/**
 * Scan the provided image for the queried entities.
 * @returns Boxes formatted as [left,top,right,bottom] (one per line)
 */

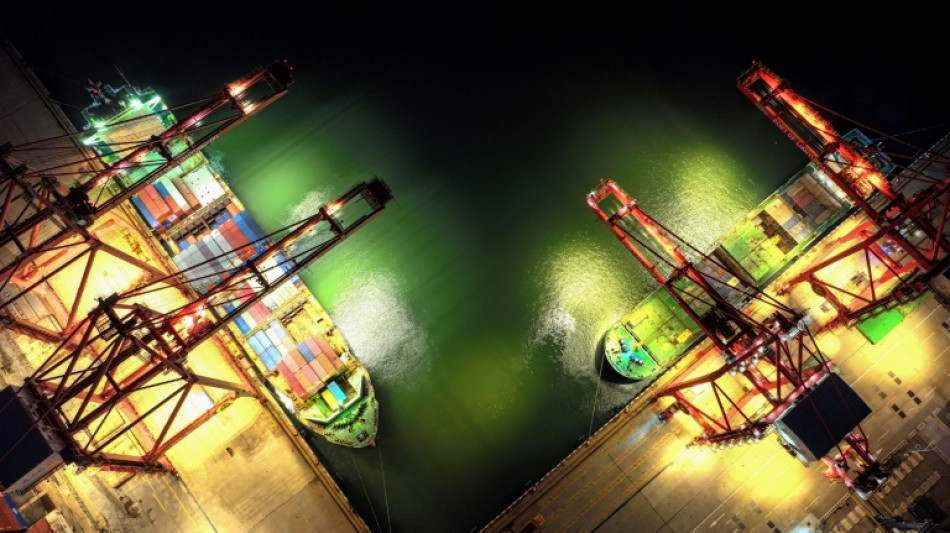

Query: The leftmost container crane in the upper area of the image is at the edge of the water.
[0,55,295,355]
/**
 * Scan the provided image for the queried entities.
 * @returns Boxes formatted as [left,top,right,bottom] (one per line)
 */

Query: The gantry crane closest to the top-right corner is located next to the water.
[731,56,950,333]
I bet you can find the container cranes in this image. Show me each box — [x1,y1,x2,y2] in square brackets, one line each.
[731,56,950,333]
[577,167,897,507]
[0,55,295,355]
[0,168,397,501]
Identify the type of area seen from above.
port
